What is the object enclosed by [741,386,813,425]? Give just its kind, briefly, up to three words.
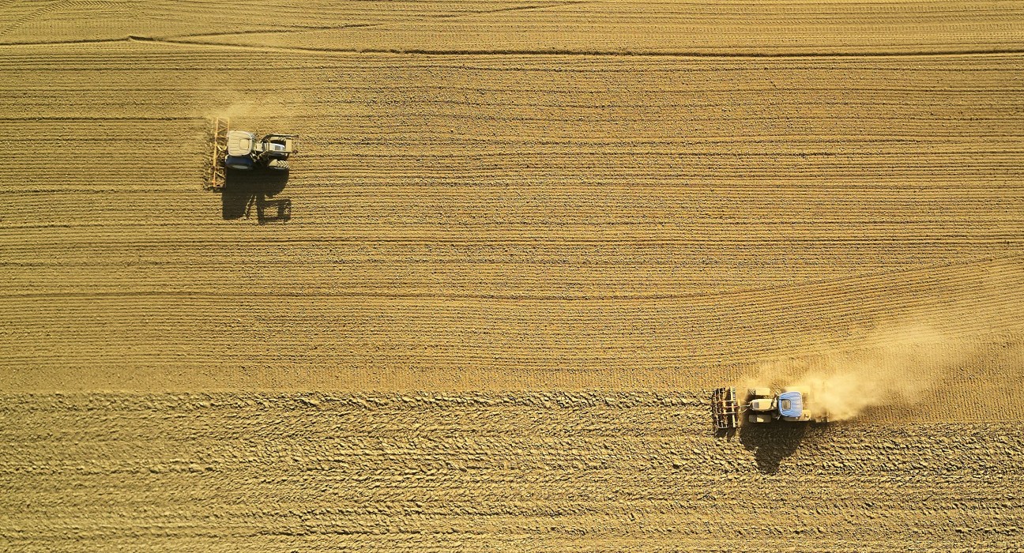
work vehicle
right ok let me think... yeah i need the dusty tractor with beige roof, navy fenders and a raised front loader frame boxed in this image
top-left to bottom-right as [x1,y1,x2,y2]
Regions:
[222,126,299,170]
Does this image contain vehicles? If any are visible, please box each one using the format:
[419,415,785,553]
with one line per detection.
[741,386,813,425]
[222,126,299,170]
